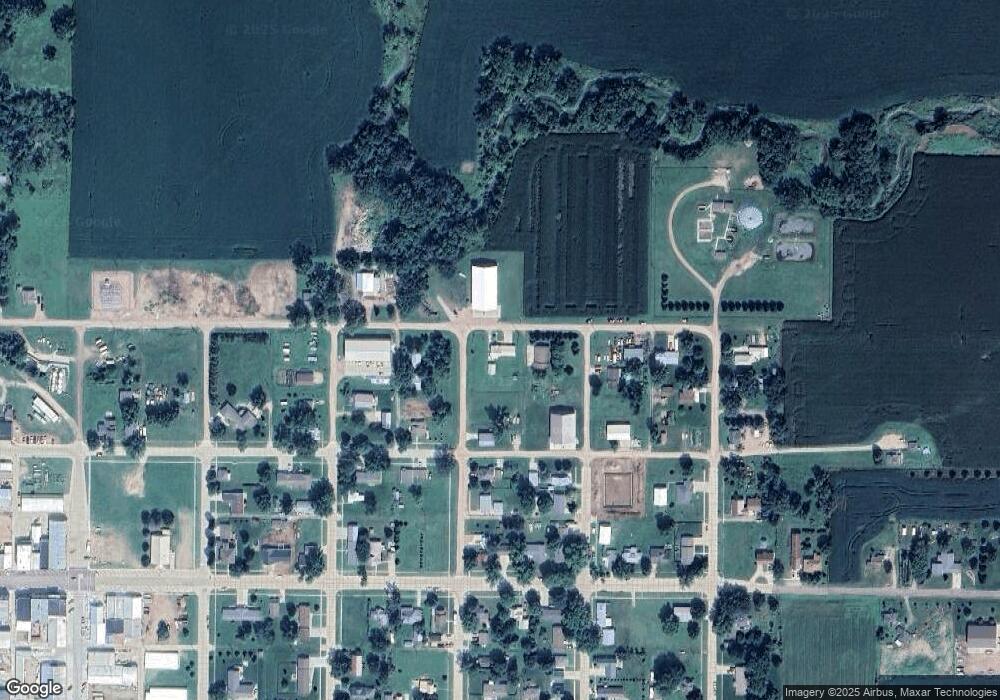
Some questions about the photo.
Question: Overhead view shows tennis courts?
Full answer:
No, the scene contains no tennis court.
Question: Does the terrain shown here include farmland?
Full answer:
Yes, there is farmland in the image.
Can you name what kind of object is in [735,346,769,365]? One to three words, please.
building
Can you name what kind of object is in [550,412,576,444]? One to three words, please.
building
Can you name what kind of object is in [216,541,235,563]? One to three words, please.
house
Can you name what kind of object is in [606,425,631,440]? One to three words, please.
shed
